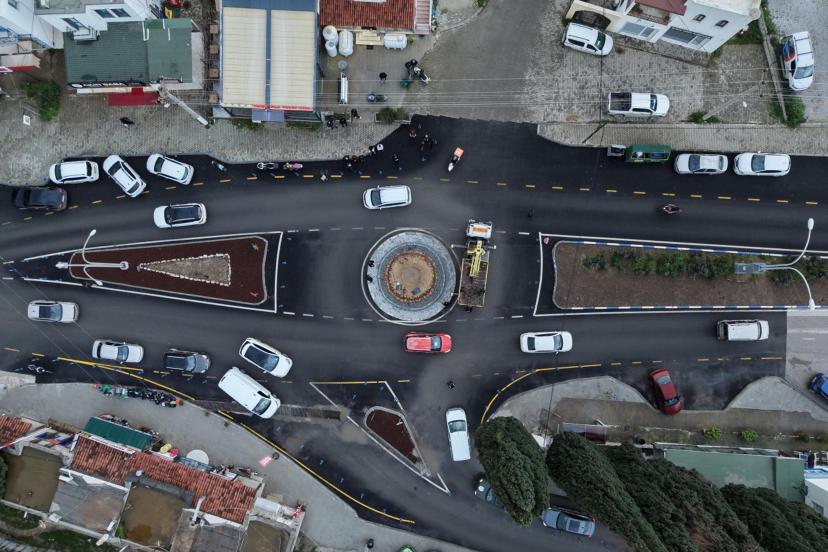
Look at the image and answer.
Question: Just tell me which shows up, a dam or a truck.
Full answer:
The image shows a truck.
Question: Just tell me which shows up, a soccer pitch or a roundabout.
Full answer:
Looking from above, you can make out a roundabout.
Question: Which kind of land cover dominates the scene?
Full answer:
The scene is dominated by paved ground.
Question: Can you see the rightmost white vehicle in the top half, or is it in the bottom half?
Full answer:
Seen from above, the rightmost white vehicle lies in the top half of the view.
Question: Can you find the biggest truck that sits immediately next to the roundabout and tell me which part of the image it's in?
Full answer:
The biggest truck that sits immediately next to the roundabout is in the center part of the image.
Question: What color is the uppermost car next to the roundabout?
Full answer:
The color of the uppermost car next to the roundabout is white.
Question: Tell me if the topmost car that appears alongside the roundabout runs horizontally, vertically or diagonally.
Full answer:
The topmost car that appears alongside the roundabout runs horizontally in the image.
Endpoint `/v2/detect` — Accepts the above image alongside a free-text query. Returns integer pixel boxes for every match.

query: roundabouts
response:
[367,232,456,320]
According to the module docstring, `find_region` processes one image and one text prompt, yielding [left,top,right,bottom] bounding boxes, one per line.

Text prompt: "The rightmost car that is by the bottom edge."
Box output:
[539,504,598,536]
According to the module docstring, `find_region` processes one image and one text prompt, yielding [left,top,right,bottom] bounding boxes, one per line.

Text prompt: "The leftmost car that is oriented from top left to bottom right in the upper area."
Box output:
[104,152,149,201]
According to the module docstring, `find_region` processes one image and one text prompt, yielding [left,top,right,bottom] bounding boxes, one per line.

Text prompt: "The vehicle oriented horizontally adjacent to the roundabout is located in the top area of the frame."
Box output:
[361,186,413,210]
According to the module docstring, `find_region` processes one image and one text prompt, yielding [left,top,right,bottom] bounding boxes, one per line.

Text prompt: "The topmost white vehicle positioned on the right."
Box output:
[560,19,614,56]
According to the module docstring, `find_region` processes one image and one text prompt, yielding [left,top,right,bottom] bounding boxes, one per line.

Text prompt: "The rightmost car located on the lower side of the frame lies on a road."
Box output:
[801,372,828,404]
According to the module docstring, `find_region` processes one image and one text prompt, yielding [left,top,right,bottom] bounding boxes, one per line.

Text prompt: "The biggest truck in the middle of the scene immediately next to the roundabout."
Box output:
[453,215,500,310]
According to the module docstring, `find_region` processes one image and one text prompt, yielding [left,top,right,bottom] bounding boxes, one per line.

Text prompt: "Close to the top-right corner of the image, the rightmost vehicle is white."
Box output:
[779,32,817,93]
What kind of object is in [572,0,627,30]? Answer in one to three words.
building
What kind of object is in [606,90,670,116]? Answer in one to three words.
vehicle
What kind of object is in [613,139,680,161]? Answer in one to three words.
truck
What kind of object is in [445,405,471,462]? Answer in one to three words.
car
